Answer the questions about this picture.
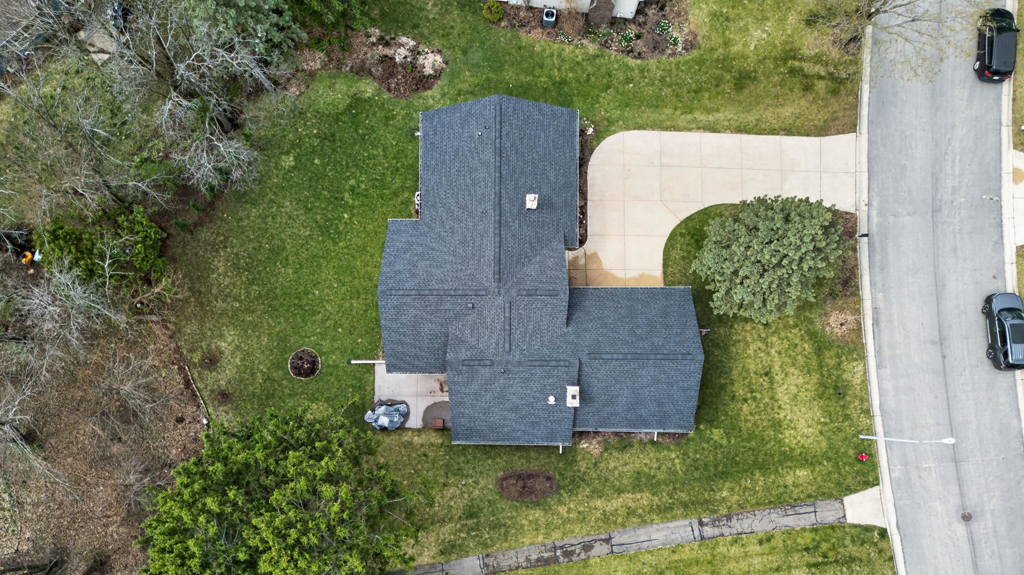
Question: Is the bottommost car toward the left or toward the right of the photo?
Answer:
right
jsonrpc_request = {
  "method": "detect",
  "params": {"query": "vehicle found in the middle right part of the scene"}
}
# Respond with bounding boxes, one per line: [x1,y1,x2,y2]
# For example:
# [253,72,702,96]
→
[981,292,1024,372]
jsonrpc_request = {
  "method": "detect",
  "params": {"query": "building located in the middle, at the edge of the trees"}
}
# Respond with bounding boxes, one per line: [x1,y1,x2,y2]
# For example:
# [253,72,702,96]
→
[379,92,702,452]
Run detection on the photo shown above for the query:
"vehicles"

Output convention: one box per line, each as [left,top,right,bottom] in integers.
[981,292,1024,372]
[969,9,1018,87]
